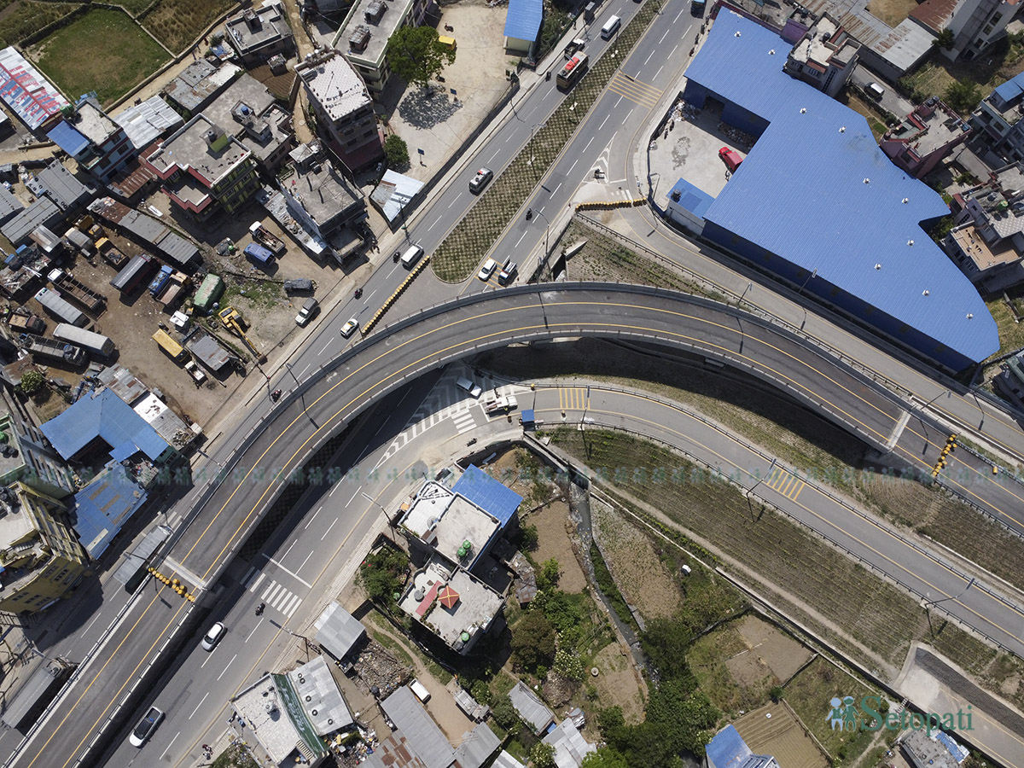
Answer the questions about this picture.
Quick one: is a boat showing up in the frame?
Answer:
No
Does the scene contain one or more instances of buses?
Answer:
Yes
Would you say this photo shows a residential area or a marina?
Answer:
residential area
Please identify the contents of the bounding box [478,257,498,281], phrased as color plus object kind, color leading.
white car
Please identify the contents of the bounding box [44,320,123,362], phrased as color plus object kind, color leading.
white truck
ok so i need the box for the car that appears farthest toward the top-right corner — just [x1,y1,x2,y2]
[862,85,887,101]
